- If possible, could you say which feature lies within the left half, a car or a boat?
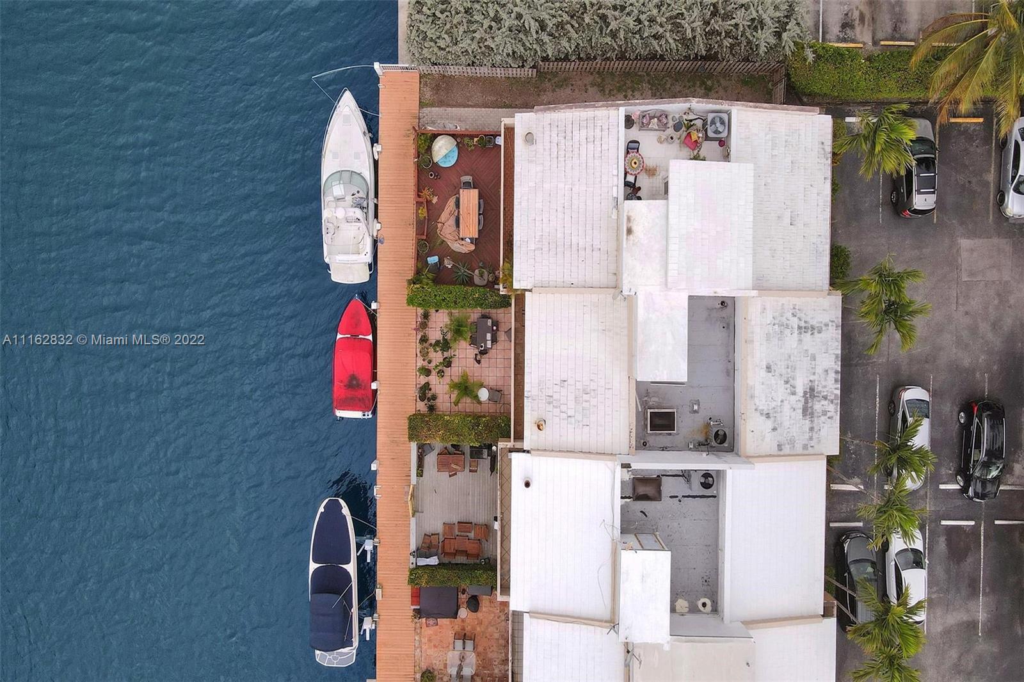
boat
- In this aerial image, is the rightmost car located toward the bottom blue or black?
black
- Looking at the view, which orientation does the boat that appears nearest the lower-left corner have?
from top to bottom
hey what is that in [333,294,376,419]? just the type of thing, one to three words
boat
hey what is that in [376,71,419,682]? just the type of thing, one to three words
pier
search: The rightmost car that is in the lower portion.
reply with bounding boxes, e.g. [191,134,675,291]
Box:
[954,398,1013,500]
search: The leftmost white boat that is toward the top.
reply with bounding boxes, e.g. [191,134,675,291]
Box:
[319,79,377,284]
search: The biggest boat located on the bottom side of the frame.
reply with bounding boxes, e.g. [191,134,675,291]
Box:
[309,494,361,666]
